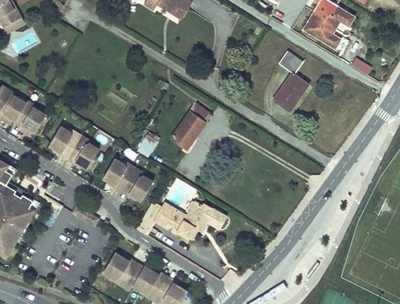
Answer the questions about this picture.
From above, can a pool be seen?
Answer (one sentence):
Yes, the picture does show a pool.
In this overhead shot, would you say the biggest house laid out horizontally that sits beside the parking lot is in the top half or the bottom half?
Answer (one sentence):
Seen from above, the biggest house laid out horizontally that sits beside the parking lot lies in the bottom half of the view.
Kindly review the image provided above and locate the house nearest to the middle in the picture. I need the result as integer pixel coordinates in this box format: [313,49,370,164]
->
[172,102,212,153]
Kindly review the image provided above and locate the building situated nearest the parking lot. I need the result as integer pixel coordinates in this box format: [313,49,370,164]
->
[102,253,130,283]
